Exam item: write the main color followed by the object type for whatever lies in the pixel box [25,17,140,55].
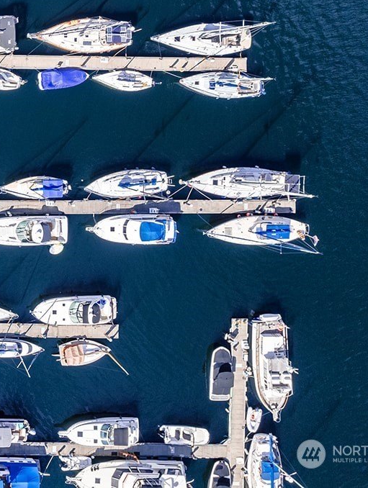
white boat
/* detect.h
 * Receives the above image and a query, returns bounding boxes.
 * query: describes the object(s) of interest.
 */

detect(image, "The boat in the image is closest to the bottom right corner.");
[243,431,305,488]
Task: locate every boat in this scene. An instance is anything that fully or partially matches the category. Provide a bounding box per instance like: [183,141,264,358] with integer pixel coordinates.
[0,336,46,378]
[83,214,179,244]
[53,335,131,376]
[206,461,230,488]
[91,71,163,91]
[83,168,177,202]
[25,17,140,55]
[0,417,34,449]
[200,214,325,256]
[0,18,21,53]
[165,71,276,100]
[0,67,28,89]
[35,69,96,93]
[64,450,192,488]
[0,453,53,488]
[208,346,233,400]
[246,315,307,426]
[0,178,73,200]
[152,13,280,57]
[160,422,209,448]
[59,415,144,448]
[28,295,119,328]
[248,405,262,432]
[243,431,305,488]
[169,164,321,205]
[62,455,89,470]
[0,211,71,247]
[48,245,64,254]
